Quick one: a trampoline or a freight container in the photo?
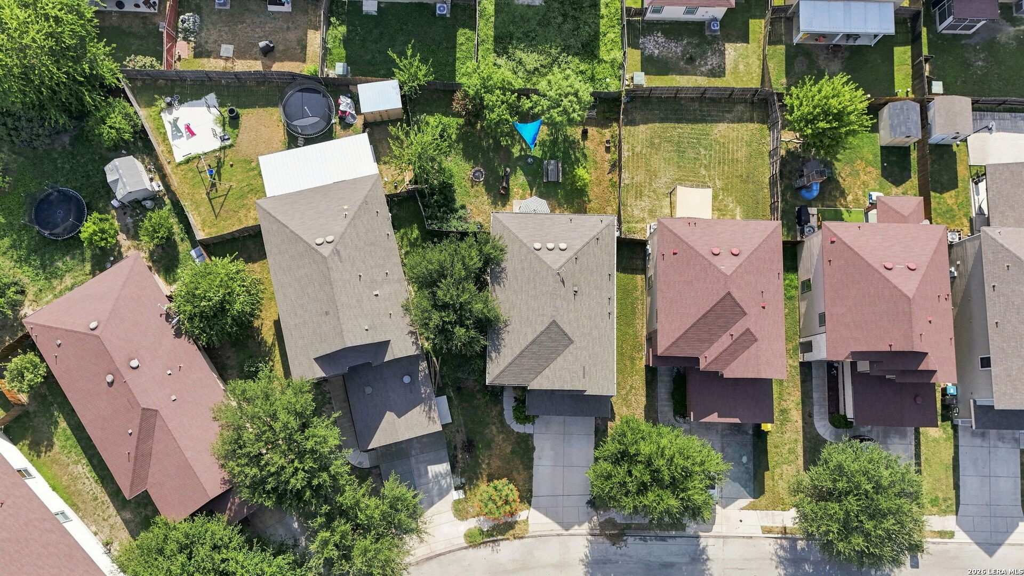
trampoline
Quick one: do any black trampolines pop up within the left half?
Yes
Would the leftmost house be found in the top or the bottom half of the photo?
bottom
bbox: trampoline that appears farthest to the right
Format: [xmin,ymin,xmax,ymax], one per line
[276,78,338,144]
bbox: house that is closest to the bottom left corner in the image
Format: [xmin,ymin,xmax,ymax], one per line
[0,430,123,576]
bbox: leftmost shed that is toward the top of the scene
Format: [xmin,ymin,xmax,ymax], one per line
[104,156,161,203]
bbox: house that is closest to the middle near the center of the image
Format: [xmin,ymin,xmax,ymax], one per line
[484,210,618,417]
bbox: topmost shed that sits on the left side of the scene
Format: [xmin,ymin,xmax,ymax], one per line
[357,80,403,123]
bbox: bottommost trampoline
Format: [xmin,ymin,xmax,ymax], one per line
[21,182,90,243]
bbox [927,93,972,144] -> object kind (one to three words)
shed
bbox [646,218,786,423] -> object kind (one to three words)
house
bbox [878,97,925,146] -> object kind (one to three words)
shed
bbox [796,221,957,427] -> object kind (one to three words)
house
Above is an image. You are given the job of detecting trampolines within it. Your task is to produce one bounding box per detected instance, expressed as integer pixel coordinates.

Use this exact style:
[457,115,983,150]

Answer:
[21,182,90,243]
[276,78,338,144]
